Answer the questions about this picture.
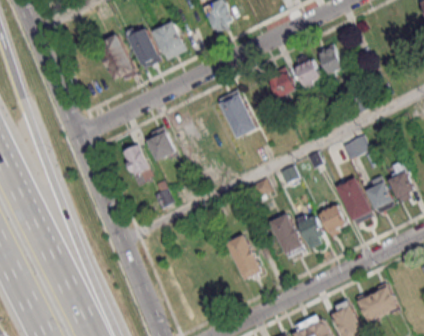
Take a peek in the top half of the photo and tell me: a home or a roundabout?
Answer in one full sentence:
The feature located in the top half of the photo is a home.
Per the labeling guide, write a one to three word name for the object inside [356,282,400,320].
house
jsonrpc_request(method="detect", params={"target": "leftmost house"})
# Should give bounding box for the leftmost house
[104,36,136,84]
